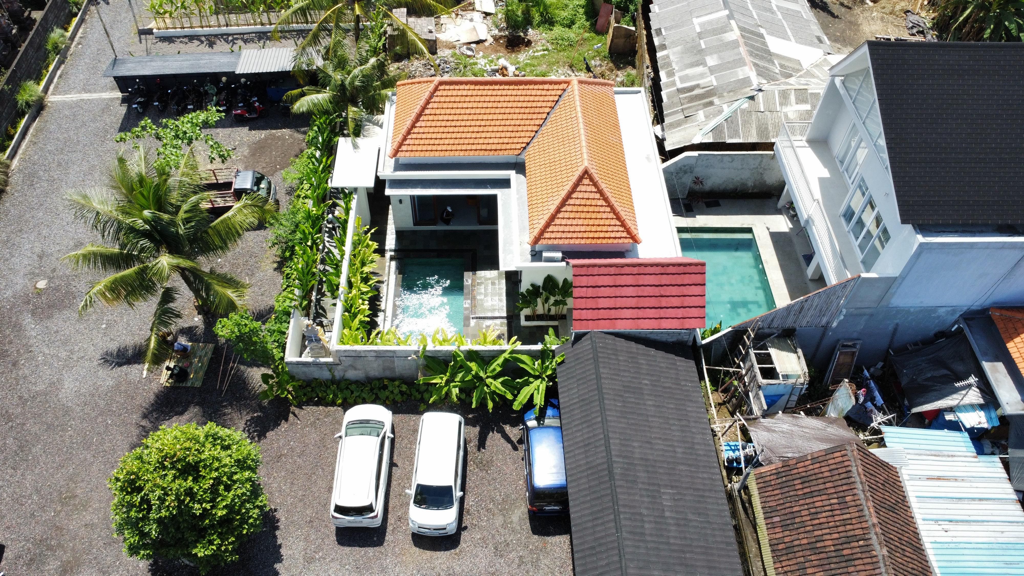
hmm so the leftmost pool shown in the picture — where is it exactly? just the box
[386,254,477,346]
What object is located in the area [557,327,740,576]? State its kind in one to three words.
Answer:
building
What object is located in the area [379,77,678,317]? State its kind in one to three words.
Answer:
house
